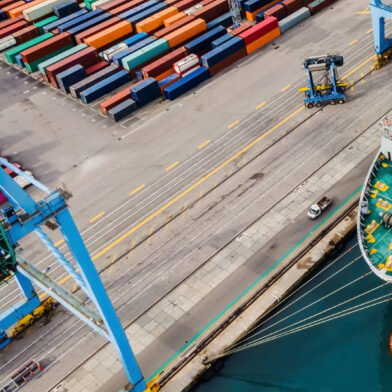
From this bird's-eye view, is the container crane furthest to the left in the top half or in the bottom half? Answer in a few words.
bottom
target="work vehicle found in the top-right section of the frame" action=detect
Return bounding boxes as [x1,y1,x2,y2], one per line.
[297,45,348,105]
